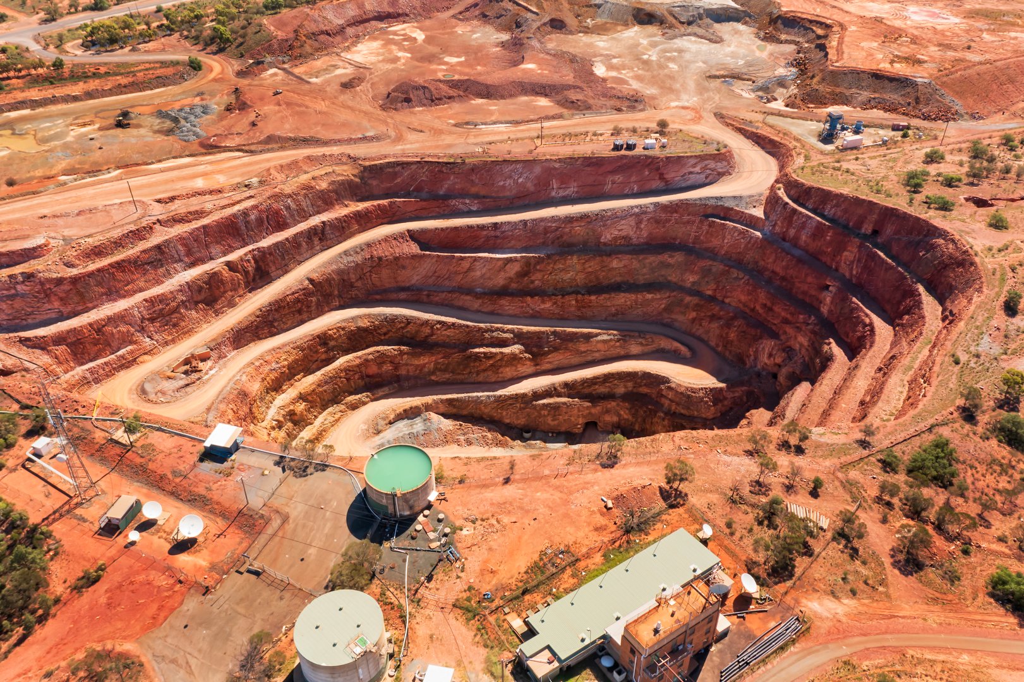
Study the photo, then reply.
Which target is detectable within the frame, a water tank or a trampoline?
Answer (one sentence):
The image shows a water tank.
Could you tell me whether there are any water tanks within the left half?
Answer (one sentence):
Yes, a water tank appears within the left half.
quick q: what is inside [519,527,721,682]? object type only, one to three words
building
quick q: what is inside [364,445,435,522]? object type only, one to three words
water tank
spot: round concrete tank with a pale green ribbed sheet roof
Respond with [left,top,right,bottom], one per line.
[294,591,392,682]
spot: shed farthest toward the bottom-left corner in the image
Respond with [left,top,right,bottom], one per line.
[106,495,139,529]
